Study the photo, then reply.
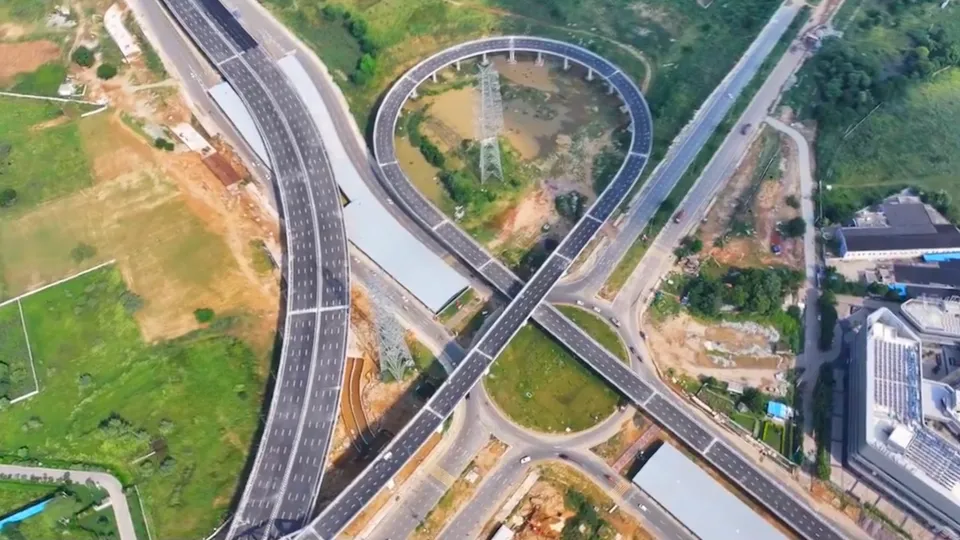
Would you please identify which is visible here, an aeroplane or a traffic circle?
traffic circle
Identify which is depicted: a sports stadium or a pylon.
pylon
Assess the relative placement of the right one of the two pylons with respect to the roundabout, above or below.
above it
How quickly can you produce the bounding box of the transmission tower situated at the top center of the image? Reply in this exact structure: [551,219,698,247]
[477,57,509,188]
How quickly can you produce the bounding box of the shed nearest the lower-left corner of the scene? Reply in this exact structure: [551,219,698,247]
[0,494,50,527]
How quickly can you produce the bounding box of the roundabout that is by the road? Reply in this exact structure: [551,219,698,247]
[467,286,651,454]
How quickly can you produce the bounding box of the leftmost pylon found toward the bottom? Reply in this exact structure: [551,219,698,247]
[358,269,416,391]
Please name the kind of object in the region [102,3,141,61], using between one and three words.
shed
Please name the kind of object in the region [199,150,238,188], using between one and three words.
shed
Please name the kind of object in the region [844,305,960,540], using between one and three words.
building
